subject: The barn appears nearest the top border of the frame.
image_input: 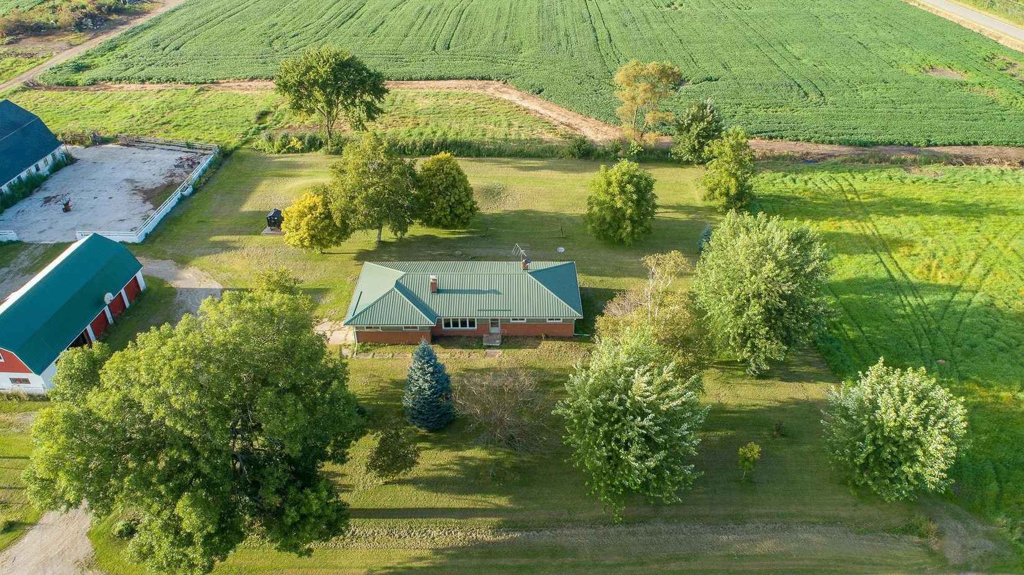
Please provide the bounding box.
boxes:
[0,97,68,210]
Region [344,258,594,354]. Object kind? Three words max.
house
